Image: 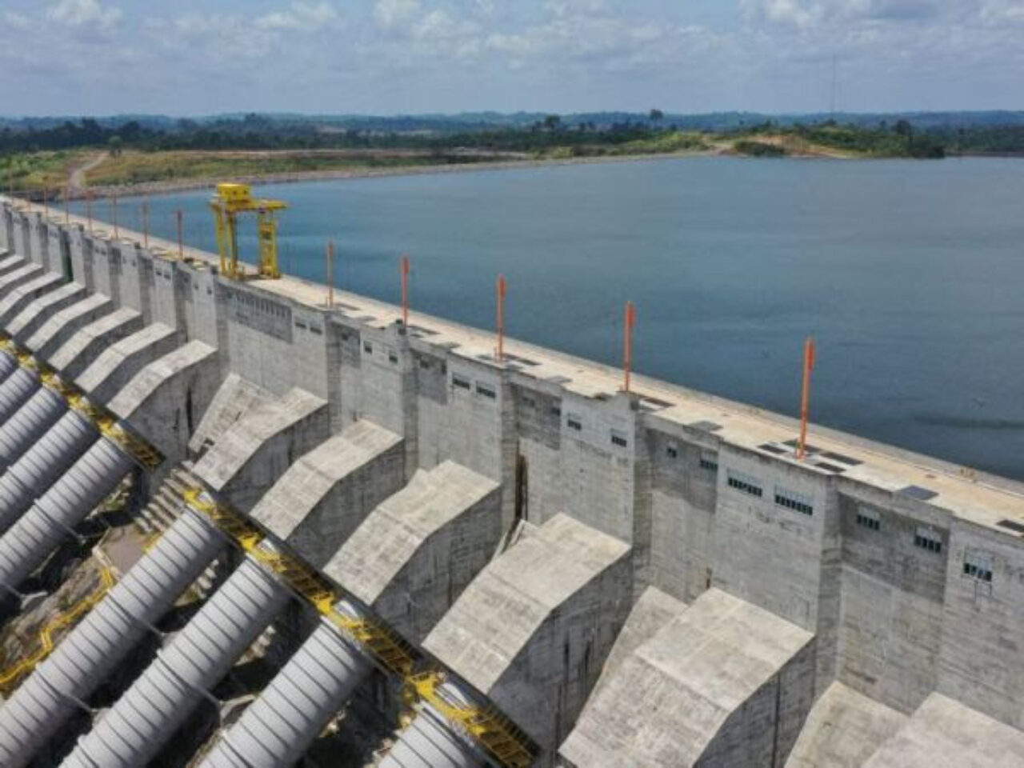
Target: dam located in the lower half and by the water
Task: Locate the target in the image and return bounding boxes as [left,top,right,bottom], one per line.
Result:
[0,193,1024,768]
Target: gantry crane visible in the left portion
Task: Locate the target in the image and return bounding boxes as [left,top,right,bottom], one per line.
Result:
[201,184,293,277]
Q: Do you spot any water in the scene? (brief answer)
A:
Yes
